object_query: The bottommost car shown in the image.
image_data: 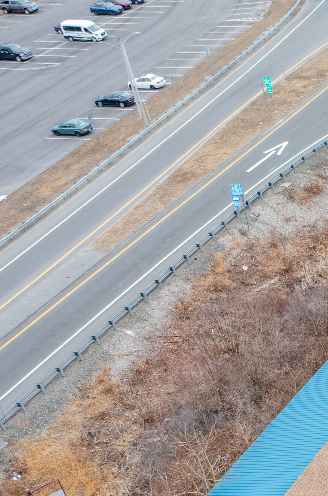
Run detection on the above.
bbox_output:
[50,119,91,136]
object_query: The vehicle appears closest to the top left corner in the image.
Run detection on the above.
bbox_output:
[0,0,38,13]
